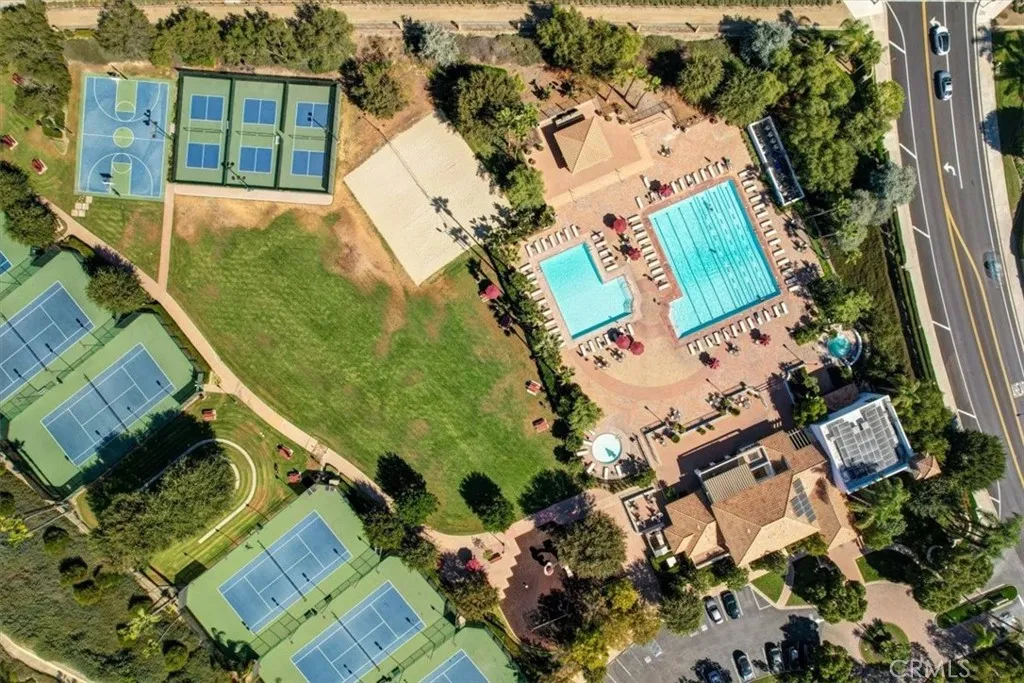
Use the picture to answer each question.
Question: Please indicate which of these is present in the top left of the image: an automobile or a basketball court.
basketball court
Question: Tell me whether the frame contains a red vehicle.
No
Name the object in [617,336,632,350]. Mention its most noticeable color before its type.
red umbrella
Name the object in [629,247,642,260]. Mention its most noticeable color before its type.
red umbrella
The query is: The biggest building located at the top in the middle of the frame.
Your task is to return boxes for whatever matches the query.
[554,116,613,173]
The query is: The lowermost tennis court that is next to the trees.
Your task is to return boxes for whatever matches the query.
[389,623,521,683]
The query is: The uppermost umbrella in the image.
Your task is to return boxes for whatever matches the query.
[661,182,676,196]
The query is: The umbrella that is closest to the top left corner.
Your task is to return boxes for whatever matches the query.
[482,283,498,299]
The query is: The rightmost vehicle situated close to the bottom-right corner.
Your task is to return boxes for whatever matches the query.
[995,612,1024,632]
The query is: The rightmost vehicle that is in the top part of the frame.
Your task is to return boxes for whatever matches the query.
[987,252,1004,279]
